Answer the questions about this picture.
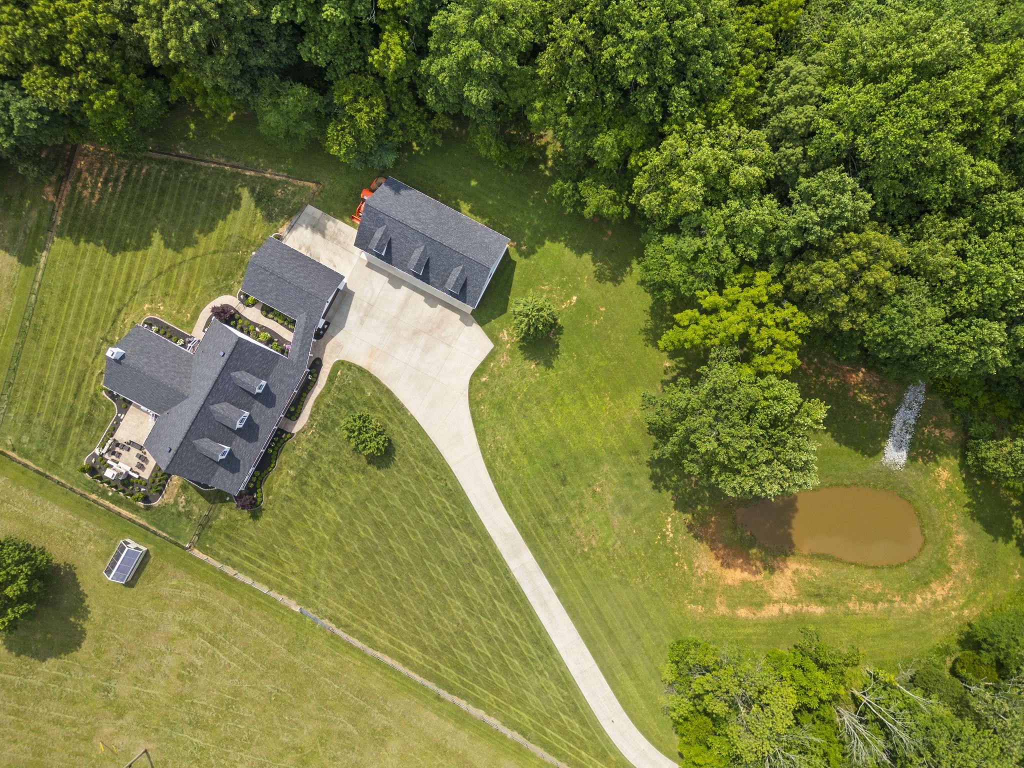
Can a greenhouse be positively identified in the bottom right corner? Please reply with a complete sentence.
No, there's no greenhouse to be seen in the bottom right corner.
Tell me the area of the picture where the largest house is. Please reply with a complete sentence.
You can find the largest house in the left area of the picture.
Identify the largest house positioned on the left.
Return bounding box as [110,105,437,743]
[103,236,346,494]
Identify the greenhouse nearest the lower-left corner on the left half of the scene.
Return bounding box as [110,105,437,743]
[102,538,147,585]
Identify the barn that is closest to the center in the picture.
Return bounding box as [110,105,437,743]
[353,175,510,311]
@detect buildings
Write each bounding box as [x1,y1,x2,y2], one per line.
[353,175,510,311]
[103,236,346,494]
[102,538,147,585]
